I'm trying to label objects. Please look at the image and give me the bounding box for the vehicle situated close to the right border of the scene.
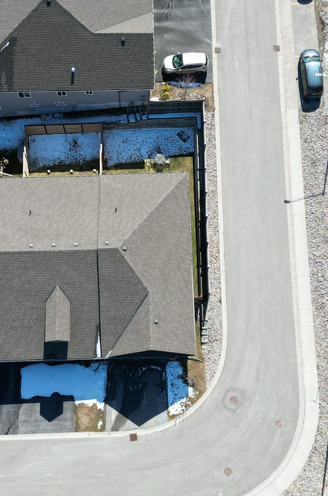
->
[298,50,324,102]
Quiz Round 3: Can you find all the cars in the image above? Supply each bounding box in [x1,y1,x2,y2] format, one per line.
[298,50,324,102]
[160,53,211,80]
